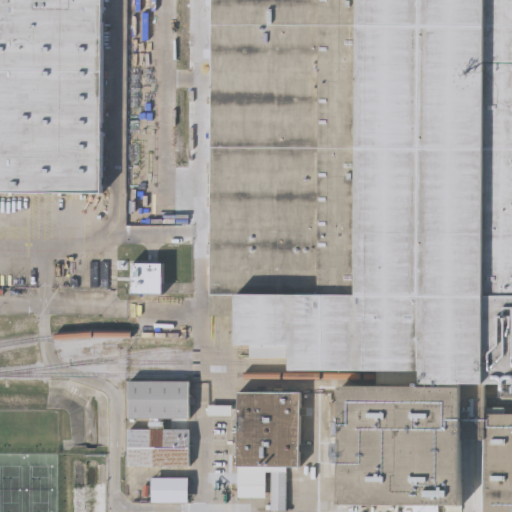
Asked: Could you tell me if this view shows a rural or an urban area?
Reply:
urban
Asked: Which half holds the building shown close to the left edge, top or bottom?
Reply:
top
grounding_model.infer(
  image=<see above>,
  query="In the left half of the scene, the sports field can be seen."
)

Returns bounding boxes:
[0,410,59,453]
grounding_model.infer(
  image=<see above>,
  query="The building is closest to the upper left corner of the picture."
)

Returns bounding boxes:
[0,0,105,192]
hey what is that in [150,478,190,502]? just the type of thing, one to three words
shed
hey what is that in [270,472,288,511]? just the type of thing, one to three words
shed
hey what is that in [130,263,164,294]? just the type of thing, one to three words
building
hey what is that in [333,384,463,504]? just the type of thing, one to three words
building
